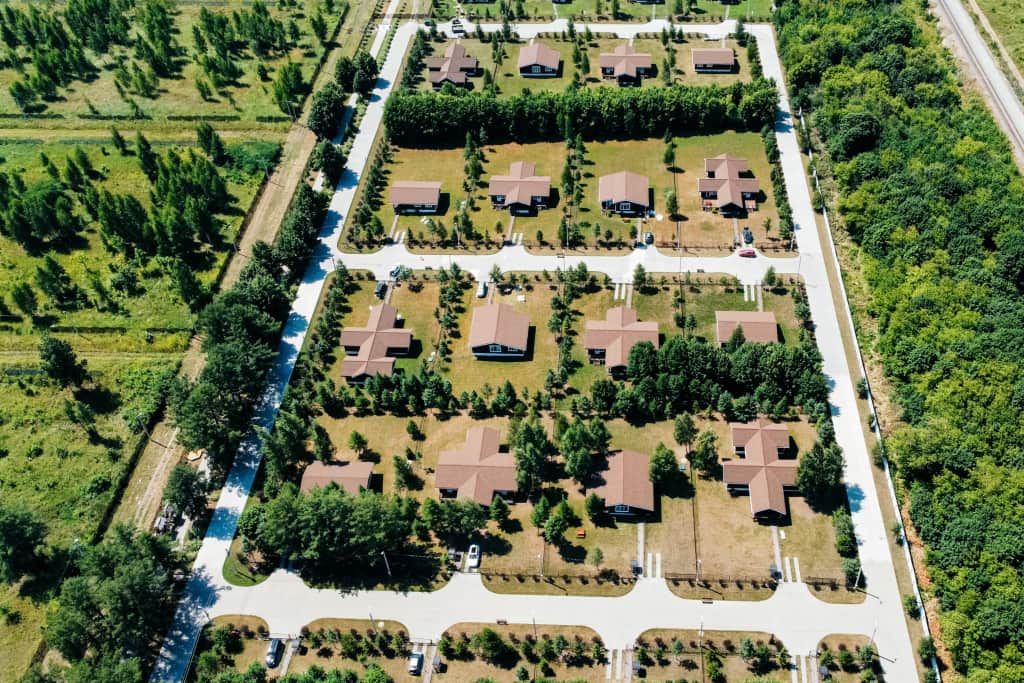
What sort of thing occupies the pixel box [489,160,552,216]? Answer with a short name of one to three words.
house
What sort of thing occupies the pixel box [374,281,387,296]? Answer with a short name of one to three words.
vehicle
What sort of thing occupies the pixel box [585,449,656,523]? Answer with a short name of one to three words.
house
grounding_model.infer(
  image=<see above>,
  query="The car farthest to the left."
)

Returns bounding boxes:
[262,637,284,666]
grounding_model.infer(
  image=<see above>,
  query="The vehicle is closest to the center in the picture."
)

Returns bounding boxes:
[475,282,487,297]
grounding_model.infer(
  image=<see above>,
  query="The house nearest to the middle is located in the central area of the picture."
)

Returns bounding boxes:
[467,303,531,362]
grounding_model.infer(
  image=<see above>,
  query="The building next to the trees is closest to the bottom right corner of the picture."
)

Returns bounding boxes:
[724,420,804,528]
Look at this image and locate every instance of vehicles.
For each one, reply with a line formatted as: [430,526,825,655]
[451,19,463,24]
[374,281,387,296]
[407,646,425,675]
[738,248,756,256]
[475,282,487,297]
[743,229,753,242]
[452,24,466,32]
[645,233,653,244]
[466,543,481,568]
[262,637,284,666]
[388,265,401,277]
